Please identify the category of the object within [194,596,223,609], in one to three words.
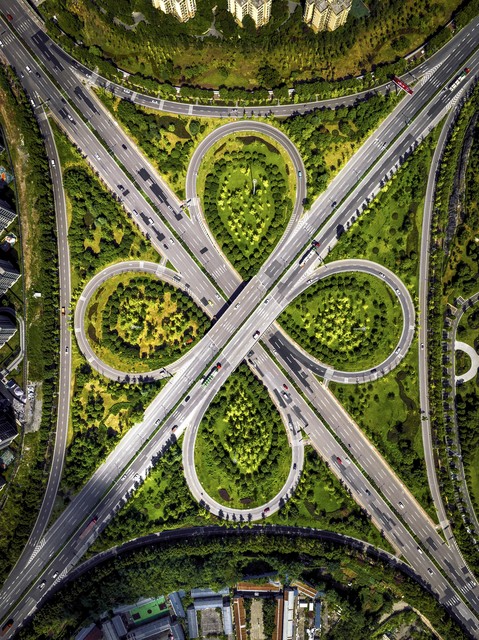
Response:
shed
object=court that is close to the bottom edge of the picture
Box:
[129,596,173,626]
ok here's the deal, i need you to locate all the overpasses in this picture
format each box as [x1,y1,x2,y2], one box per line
[198,279,287,375]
